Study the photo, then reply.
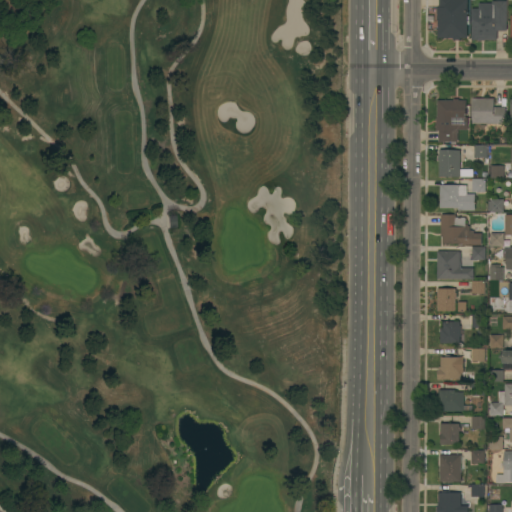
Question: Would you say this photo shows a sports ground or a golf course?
golf course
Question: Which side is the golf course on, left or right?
left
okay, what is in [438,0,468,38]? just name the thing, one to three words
house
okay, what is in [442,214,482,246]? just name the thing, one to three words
house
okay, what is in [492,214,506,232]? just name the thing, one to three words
swimming pool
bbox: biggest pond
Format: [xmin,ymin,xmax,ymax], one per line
[178,414,234,492]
